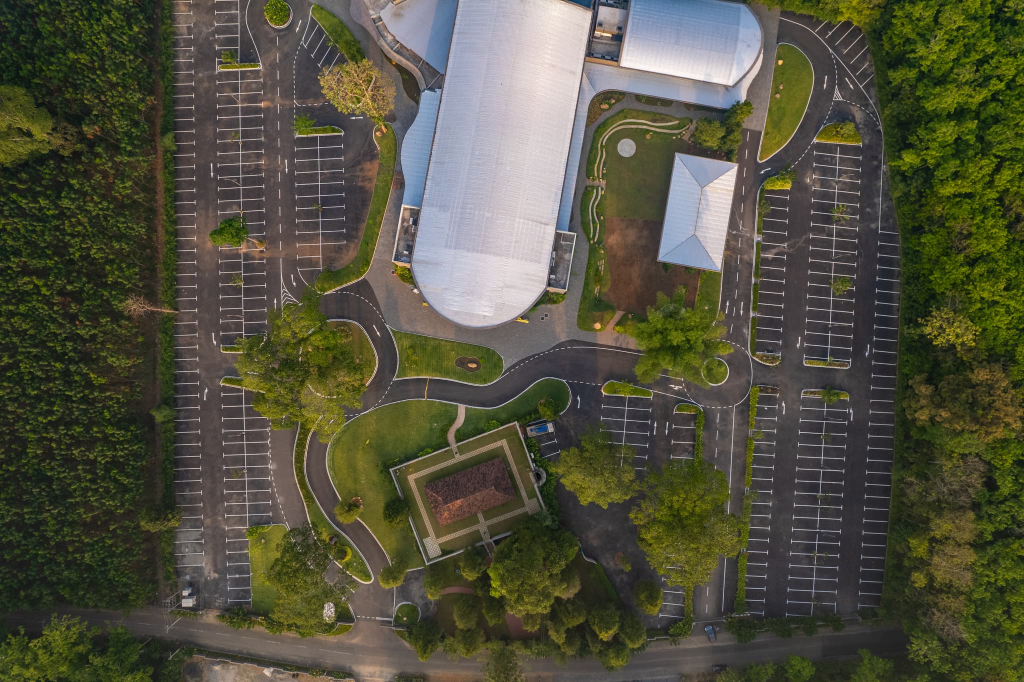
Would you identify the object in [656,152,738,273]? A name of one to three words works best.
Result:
building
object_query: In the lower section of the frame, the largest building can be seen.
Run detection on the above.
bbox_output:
[424,456,517,528]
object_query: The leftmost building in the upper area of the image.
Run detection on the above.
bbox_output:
[362,0,596,330]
